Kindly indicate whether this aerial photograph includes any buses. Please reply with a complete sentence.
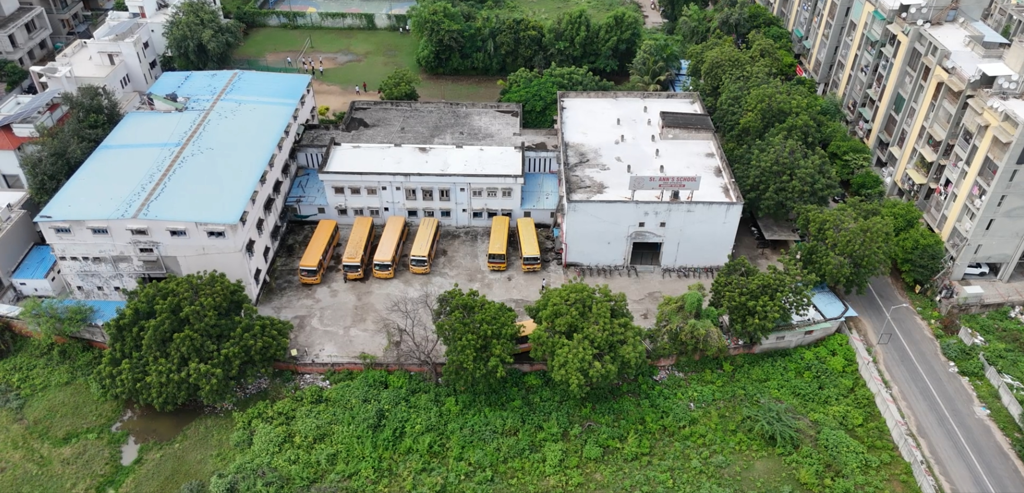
Yes, a bus is visible in the scene.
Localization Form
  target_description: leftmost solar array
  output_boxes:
[0,85,67,140]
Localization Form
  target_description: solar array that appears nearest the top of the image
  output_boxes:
[95,12,149,41]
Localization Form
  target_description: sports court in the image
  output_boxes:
[270,0,473,23]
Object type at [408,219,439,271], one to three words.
bus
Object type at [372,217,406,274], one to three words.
bus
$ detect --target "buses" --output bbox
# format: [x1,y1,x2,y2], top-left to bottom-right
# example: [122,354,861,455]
[297,221,338,281]
[372,217,406,274]
[340,218,374,276]
[408,219,439,271]
[516,219,543,270]
[486,217,510,269]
